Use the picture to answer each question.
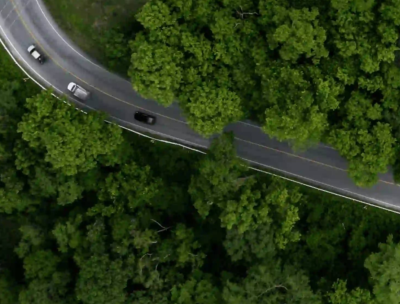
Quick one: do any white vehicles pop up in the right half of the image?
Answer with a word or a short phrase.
No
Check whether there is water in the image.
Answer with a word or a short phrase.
No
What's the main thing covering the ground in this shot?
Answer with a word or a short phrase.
trees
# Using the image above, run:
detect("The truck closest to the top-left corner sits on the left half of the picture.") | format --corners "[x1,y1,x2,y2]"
[25,44,48,68]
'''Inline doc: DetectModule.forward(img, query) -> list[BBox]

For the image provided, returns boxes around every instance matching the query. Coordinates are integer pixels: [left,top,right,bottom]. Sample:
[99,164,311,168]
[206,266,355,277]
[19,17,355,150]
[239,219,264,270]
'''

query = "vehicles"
[67,82,93,102]
[134,110,157,124]
[25,44,48,68]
